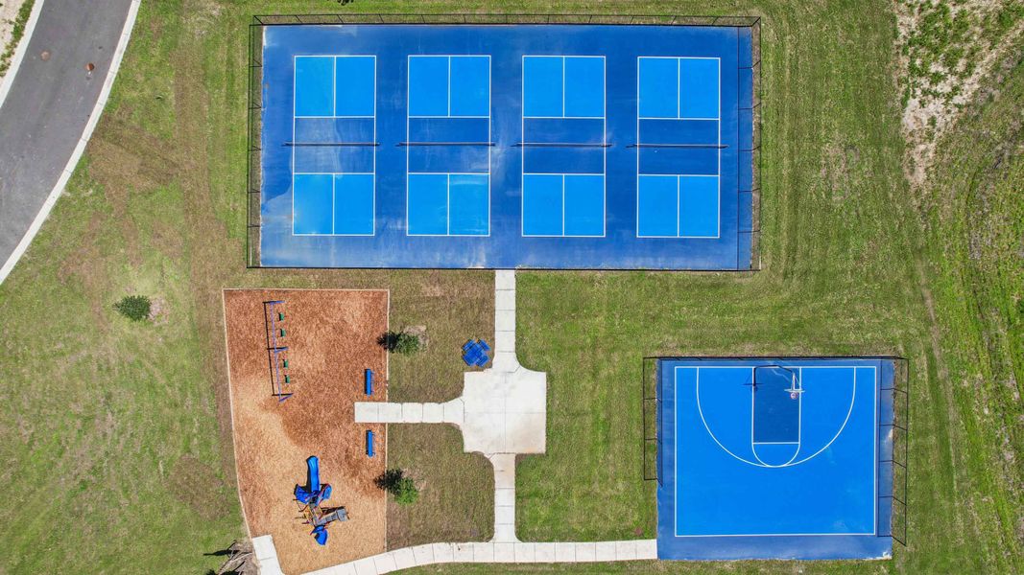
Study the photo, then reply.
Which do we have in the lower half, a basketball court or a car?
basketball court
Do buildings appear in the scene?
No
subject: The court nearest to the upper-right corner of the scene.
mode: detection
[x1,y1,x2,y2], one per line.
[679,58,720,118]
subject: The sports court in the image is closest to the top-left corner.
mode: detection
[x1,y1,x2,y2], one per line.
[294,55,334,116]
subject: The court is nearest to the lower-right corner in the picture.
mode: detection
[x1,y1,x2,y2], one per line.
[657,359,894,561]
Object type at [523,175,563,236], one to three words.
sports court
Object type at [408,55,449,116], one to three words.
sports court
